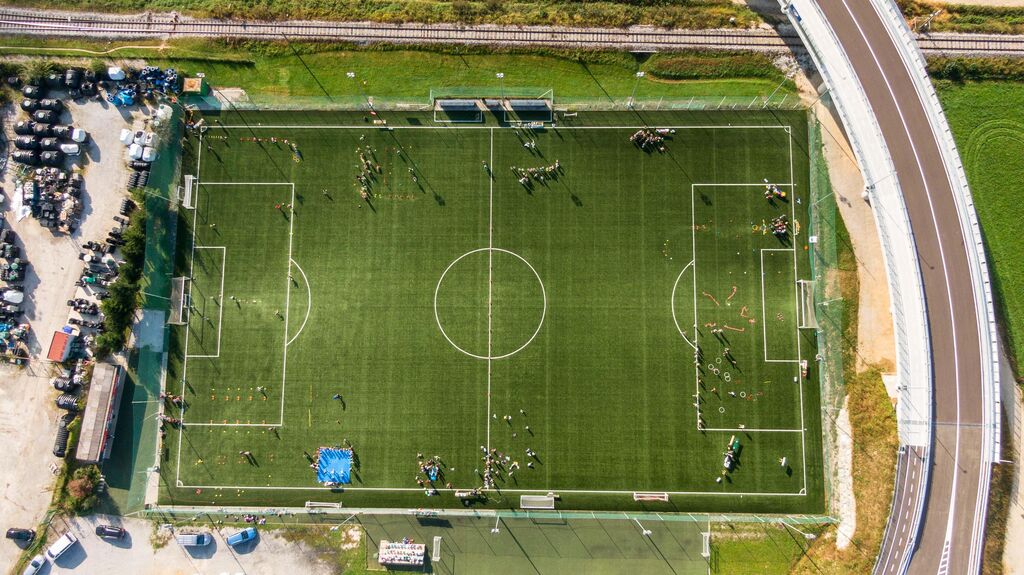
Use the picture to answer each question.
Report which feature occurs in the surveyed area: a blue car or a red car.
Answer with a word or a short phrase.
blue car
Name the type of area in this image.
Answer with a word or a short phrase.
sports ground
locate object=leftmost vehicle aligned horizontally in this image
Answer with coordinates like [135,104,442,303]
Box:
[6,528,37,542]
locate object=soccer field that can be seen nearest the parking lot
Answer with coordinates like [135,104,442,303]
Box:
[158,109,826,513]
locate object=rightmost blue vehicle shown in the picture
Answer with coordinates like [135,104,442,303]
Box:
[225,527,259,547]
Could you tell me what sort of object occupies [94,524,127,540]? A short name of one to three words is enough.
car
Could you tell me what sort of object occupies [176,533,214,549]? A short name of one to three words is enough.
car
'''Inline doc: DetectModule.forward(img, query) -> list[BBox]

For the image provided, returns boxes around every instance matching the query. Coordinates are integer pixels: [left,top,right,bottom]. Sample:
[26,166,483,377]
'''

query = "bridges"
[773,0,1004,463]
